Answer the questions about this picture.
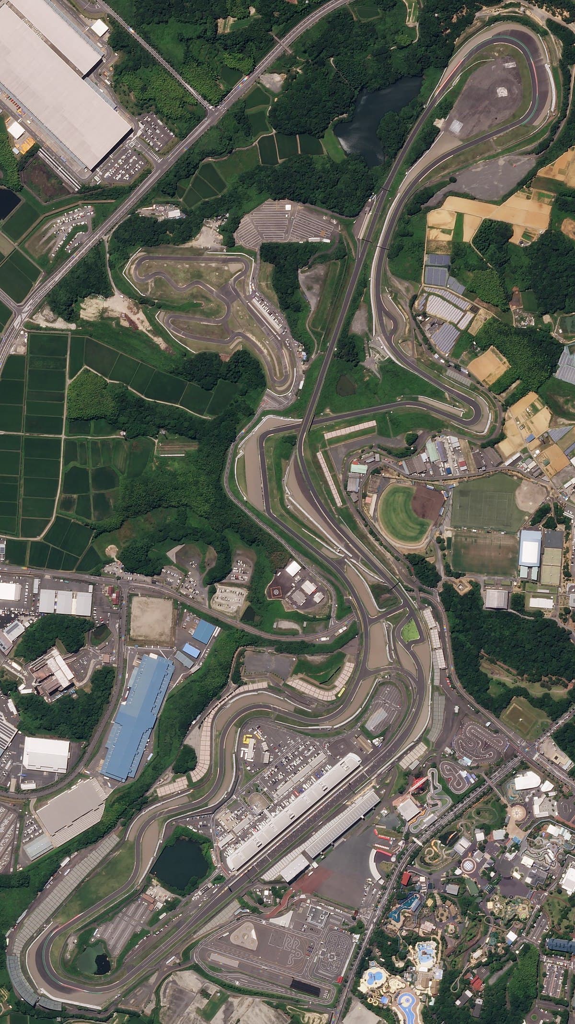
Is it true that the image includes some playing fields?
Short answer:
Yes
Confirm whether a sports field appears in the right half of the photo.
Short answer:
Yes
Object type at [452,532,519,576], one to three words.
sports field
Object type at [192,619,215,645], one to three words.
building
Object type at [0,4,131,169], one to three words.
warehouse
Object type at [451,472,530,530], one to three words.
sports field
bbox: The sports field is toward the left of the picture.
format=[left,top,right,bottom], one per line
[129,596,172,642]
